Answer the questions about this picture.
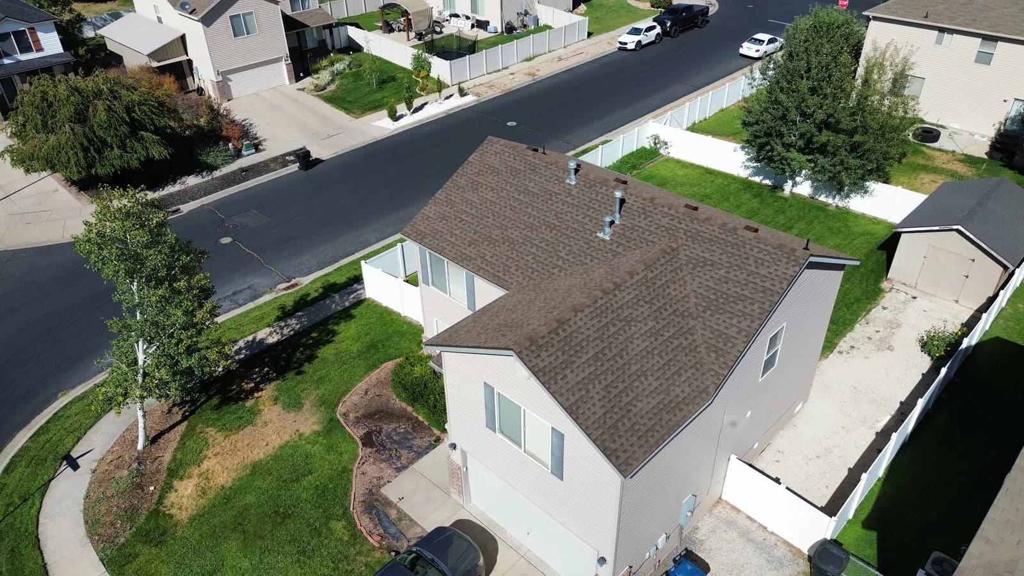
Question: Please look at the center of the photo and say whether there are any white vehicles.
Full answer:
No, the scene shows no white vehicle at the center of the photo.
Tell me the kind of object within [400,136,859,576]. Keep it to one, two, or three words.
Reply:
house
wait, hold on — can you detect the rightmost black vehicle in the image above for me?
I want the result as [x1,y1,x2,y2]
[656,4,713,38]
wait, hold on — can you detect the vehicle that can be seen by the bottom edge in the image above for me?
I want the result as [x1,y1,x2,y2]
[368,523,490,576]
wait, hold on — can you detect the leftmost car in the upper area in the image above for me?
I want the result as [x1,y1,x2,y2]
[615,21,665,52]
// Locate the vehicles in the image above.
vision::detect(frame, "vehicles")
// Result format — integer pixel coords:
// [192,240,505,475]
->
[736,32,780,57]
[656,4,713,38]
[368,523,490,576]
[615,21,665,52]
